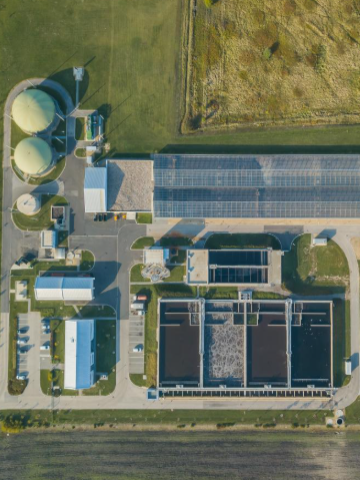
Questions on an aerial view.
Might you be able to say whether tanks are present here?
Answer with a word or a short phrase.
Yes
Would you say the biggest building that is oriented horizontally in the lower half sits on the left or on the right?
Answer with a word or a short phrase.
left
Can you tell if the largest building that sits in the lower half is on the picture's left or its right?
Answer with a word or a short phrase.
left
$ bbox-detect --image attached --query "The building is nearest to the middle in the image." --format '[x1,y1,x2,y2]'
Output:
[145,249,169,263]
